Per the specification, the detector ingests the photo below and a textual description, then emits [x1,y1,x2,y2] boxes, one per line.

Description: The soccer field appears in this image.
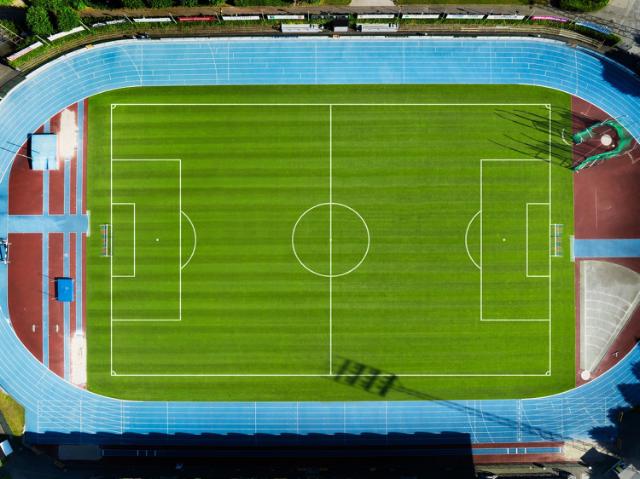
[87,84,576,401]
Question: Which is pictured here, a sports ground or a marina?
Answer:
sports ground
